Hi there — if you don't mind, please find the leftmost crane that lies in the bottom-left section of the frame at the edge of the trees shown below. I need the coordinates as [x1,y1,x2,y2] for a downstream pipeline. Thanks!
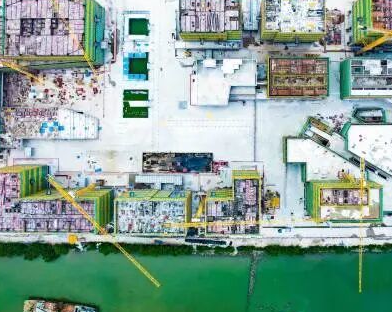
[46,175,161,287]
